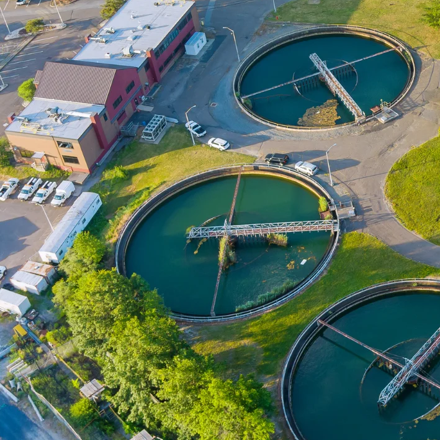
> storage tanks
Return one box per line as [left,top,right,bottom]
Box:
[283,276,440,440]
[115,162,359,321]
[234,22,414,132]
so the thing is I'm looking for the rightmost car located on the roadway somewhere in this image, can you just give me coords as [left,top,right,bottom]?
[290,156,321,175]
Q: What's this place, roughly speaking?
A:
industrial area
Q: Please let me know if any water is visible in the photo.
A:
Yes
